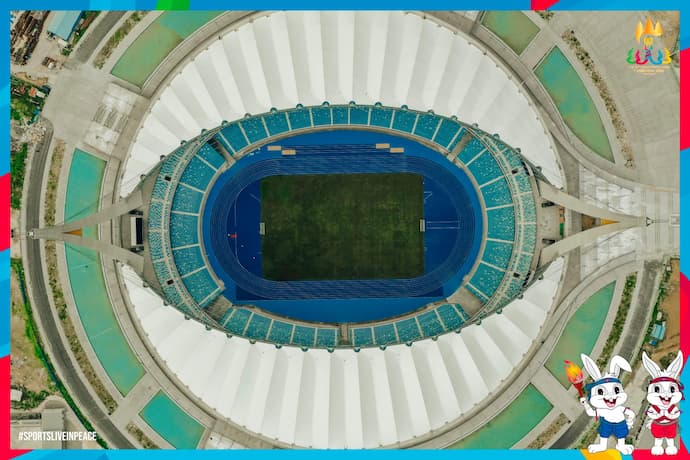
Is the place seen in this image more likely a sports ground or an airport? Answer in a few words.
sports ground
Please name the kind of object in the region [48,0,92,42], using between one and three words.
building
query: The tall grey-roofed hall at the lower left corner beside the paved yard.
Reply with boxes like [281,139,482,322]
[41,406,69,460]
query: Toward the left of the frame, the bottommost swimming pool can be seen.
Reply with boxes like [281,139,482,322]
[136,389,205,460]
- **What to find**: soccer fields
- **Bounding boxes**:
[261,174,424,280]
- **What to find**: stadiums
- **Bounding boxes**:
[113,0,569,455]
